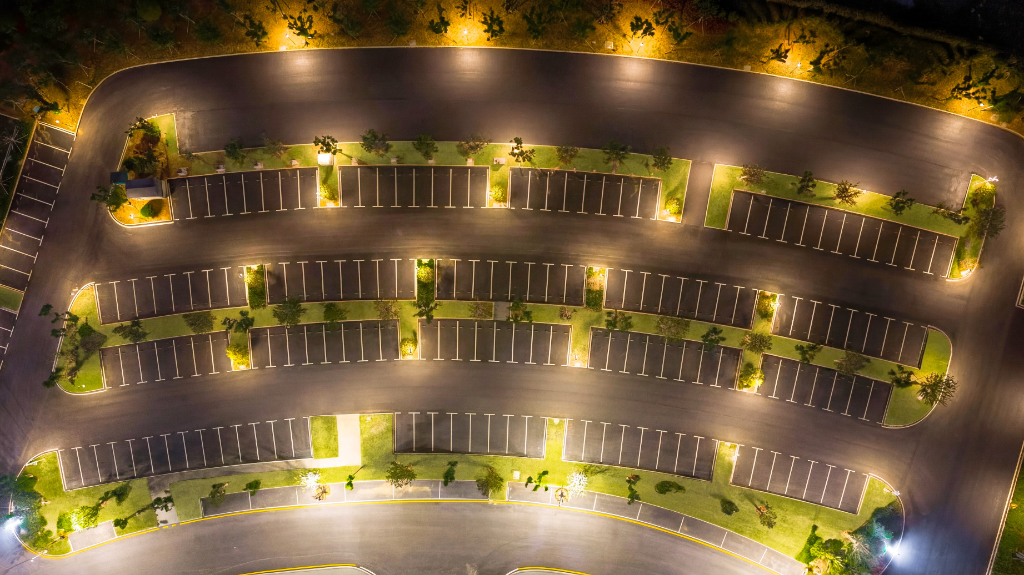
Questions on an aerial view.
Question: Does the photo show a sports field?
No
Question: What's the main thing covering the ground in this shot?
paved ground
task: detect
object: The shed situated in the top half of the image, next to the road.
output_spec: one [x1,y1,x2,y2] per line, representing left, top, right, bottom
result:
[121,174,173,203]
